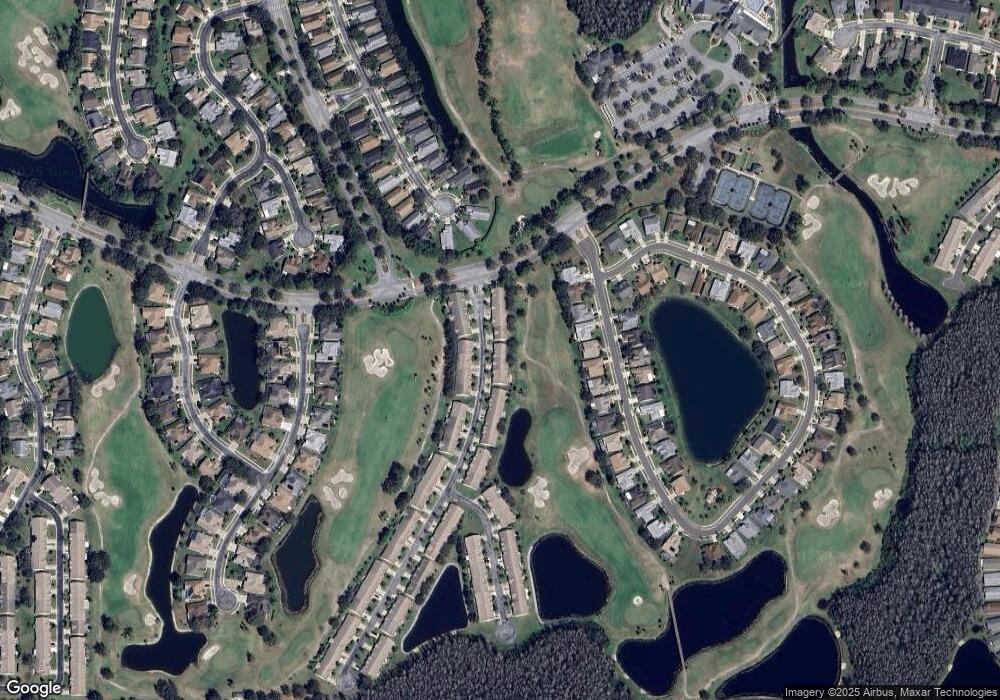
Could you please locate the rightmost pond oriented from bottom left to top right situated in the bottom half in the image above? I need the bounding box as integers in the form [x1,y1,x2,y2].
[403,565,467,651]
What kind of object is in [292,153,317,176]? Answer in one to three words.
house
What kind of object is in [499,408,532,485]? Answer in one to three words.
pond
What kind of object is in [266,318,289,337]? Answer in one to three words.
house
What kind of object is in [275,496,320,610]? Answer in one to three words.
pond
